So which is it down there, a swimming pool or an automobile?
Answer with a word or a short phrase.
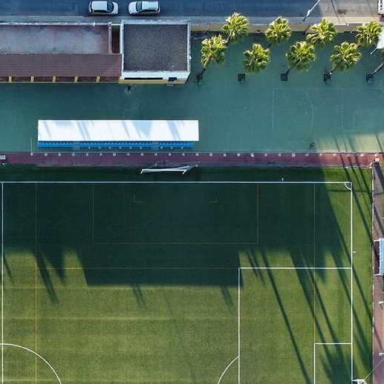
automobile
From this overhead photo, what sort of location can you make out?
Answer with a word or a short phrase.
sports ground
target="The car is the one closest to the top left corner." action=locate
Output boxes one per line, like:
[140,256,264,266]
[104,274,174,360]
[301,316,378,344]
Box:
[89,0,118,16]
